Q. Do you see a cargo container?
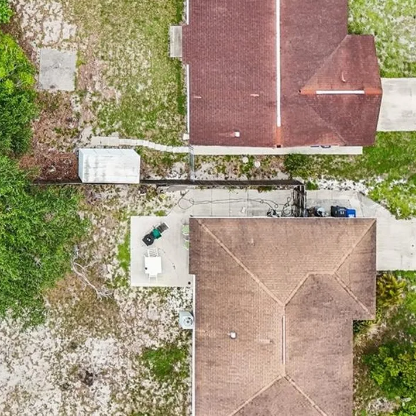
No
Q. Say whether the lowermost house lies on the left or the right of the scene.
right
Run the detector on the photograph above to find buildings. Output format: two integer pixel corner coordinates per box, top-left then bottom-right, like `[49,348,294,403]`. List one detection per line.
[79,148,142,183]
[182,0,384,149]
[189,215,376,416]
